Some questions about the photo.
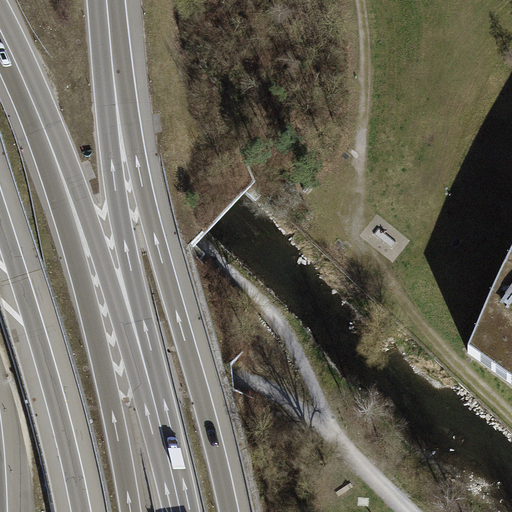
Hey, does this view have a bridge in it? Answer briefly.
No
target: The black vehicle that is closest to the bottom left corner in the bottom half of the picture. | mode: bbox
[205,420,220,448]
